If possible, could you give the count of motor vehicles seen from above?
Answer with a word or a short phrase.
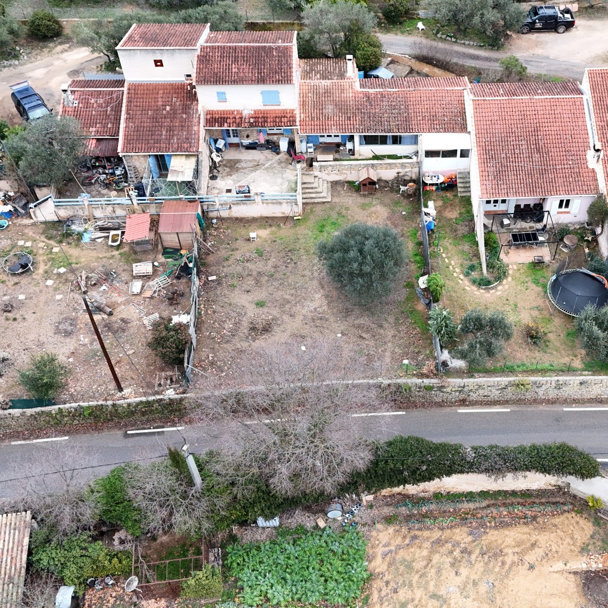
2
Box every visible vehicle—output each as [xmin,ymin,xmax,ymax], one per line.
[519,4,579,32]
[6,71,49,121]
